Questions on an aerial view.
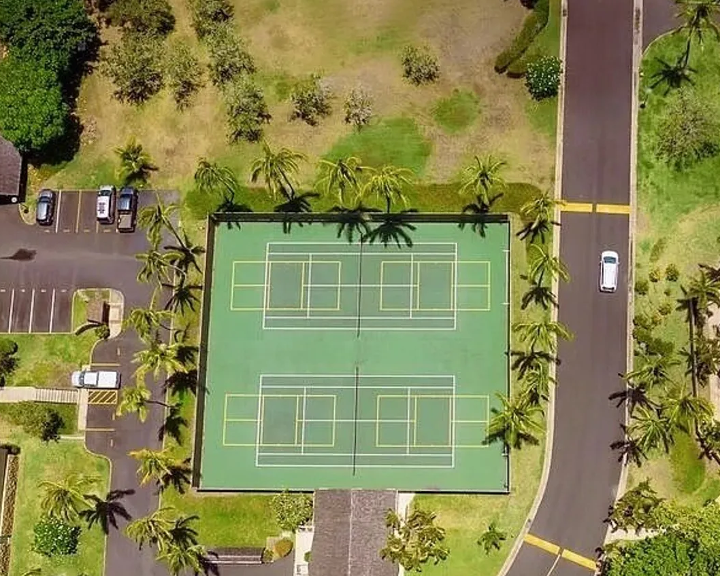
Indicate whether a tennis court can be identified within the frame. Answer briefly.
Yes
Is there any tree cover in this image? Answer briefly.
Yes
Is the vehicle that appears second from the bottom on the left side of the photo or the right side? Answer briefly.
right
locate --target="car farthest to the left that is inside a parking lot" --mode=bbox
[35,190,57,226]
